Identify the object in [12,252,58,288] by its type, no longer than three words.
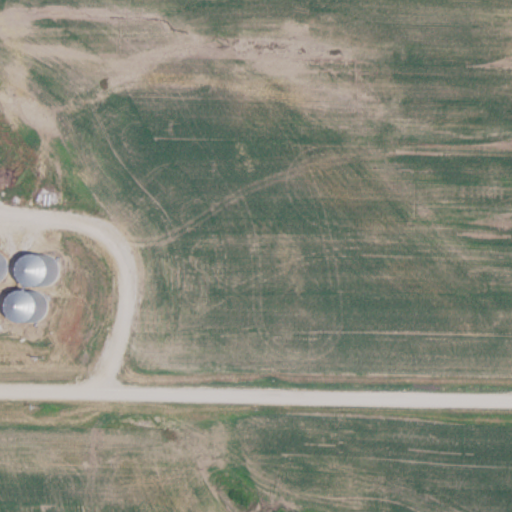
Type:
silo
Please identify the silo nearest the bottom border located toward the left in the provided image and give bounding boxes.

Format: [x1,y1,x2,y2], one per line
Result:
[2,288,48,326]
